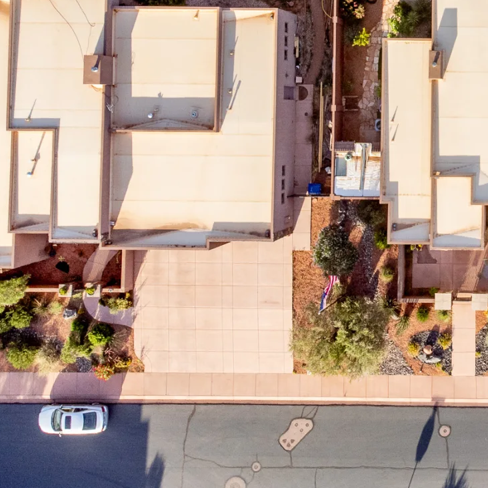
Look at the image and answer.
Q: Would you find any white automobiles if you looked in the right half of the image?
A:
No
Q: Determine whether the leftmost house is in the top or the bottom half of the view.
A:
top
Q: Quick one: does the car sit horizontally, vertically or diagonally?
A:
horizontally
